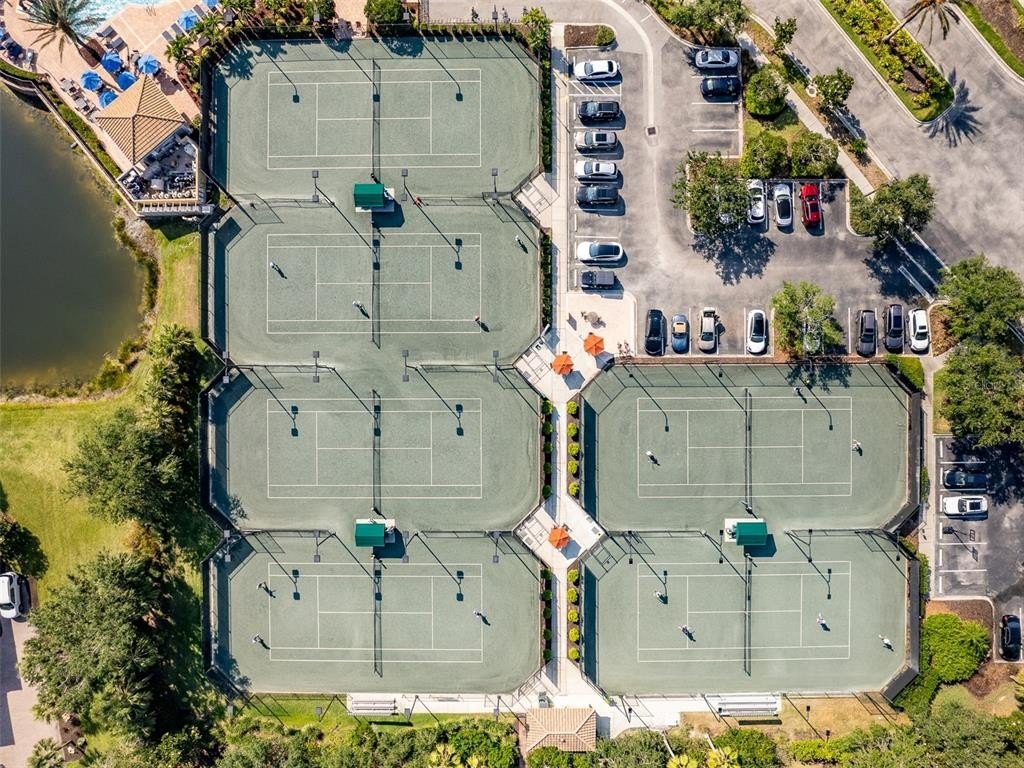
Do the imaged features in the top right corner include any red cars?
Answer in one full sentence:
Yes, you'll find a red car in the top right corner.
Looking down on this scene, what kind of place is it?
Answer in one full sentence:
This image shows a sports ground.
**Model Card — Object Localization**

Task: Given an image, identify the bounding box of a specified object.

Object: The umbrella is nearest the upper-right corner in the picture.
[583,333,605,356]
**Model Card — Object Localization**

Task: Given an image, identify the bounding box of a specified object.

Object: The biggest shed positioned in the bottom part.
[526,700,597,753]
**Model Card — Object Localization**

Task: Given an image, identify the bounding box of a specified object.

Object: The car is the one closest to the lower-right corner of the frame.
[996,613,1021,658]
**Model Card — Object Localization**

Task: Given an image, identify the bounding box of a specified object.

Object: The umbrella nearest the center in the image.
[551,352,574,376]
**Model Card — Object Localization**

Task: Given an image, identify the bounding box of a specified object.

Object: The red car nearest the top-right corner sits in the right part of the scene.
[797,184,821,228]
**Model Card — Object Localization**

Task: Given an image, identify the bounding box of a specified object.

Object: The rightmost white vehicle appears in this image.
[940,496,988,517]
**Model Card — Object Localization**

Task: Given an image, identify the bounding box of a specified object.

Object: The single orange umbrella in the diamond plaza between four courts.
[547,525,569,549]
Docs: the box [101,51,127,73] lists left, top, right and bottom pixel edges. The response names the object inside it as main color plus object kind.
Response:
blue umbrella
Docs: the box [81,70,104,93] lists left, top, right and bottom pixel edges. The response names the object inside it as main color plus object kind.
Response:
blue umbrella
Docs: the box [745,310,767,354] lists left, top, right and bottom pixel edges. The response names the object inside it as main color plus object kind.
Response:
white car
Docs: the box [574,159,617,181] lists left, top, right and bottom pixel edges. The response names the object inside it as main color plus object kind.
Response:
white car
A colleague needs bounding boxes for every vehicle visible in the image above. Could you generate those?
[905,310,930,352]
[697,304,718,353]
[770,185,792,227]
[574,159,617,181]
[996,613,1021,658]
[745,310,767,354]
[854,311,876,354]
[940,496,988,517]
[578,269,618,289]
[574,59,619,82]
[575,185,619,206]
[745,181,767,225]
[577,242,623,262]
[797,184,821,228]
[644,310,664,355]
[939,470,986,490]
[574,129,617,152]
[694,49,738,72]
[880,306,904,350]
[670,314,690,353]
[697,77,740,99]
[0,574,25,618]
[577,100,620,122]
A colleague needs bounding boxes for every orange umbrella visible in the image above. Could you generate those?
[583,333,605,356]
[551,352,574,376]
[547,525,569,549]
